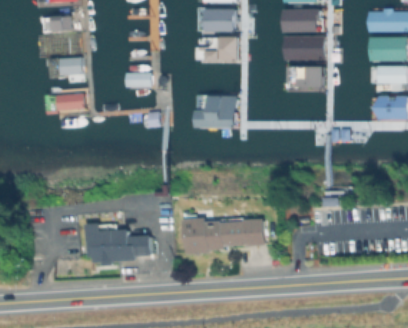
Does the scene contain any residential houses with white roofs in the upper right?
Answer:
Yes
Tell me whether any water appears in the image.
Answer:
Yes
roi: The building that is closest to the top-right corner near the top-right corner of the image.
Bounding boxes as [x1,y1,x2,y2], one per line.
[367,8,408,34]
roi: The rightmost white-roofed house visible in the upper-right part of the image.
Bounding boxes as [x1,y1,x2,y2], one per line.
[370,66,408,94]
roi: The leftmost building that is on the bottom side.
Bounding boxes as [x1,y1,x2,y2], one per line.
[86,224,158,268]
